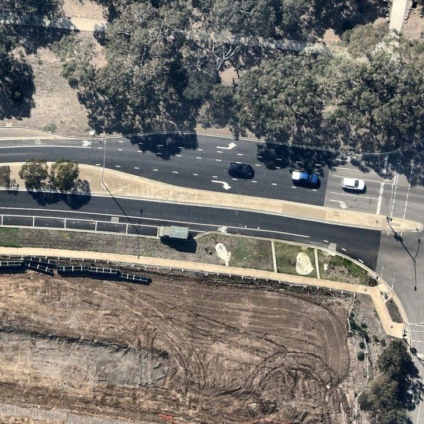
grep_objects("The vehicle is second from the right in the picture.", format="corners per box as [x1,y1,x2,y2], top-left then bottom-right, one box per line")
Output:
[290,170,321,185]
